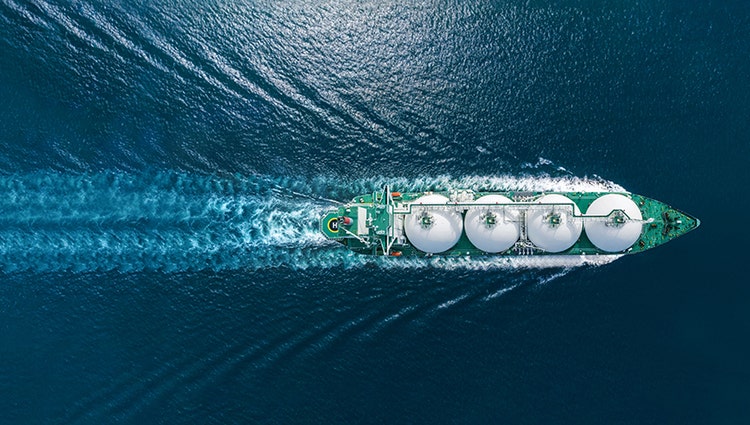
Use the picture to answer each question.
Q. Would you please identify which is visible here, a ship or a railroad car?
ship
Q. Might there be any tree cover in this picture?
No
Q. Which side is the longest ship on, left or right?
right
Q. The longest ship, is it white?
Yes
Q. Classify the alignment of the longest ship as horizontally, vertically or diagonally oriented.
horizontally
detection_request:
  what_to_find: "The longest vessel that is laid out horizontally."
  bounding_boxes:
[319,184,699,259]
